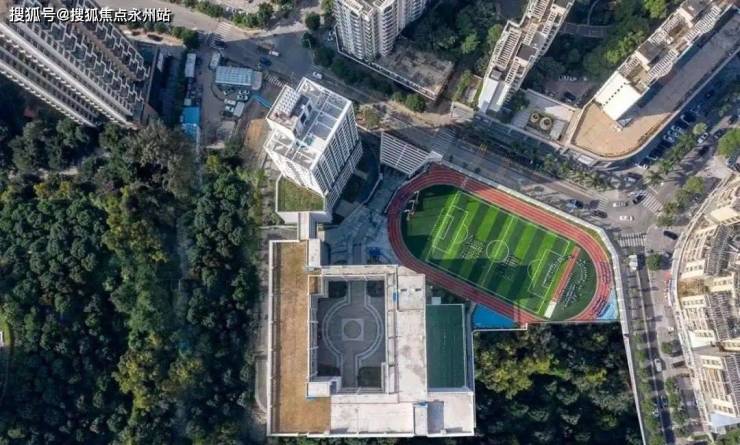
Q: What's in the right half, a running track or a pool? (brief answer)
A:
running track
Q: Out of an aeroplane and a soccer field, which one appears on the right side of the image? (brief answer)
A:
soccer field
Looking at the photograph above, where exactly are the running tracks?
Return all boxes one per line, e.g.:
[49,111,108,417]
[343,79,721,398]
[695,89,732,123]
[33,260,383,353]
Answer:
[386,170,614,321]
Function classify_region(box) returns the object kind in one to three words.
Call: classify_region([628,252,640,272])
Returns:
vehicle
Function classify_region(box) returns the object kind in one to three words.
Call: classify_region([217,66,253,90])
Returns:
shed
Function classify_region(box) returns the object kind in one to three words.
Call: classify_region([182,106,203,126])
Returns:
shed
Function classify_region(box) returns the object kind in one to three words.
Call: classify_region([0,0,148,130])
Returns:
building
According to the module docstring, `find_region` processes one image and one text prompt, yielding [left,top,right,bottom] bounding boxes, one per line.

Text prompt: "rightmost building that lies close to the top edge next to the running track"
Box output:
[568,0,740,162]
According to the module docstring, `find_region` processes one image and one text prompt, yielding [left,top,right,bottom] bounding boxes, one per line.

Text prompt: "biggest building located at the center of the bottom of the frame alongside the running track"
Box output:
[269,238,475,436]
